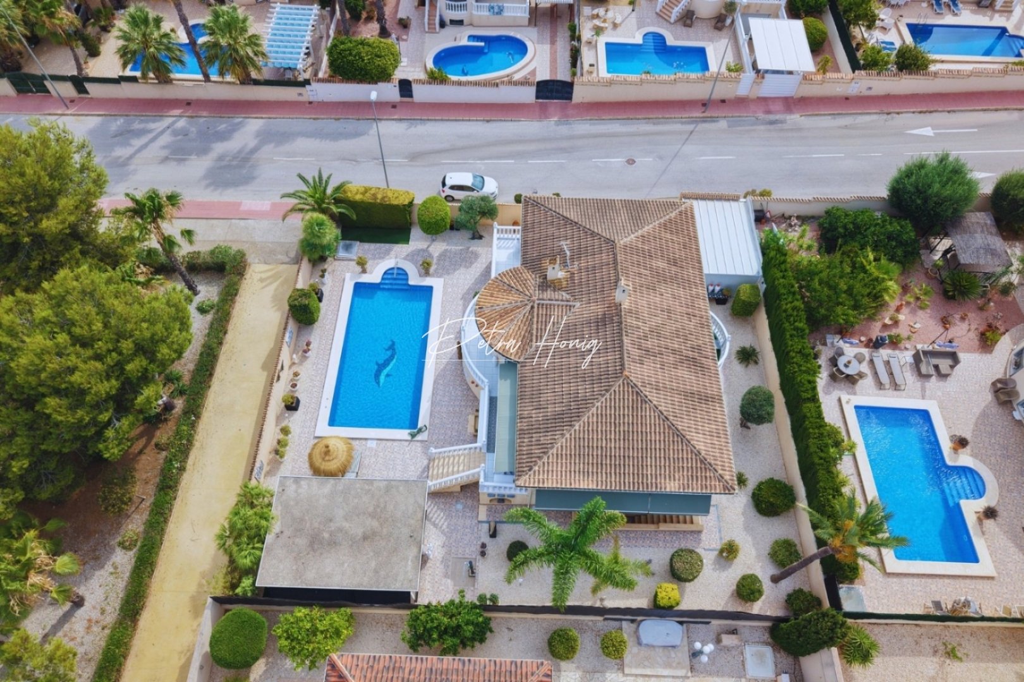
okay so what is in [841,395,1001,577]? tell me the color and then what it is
blue swimming pool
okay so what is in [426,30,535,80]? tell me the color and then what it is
blue swimming pool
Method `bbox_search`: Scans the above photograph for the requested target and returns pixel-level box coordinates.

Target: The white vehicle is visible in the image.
[439,173,498,201]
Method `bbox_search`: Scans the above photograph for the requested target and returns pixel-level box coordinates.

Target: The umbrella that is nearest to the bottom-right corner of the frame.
[944,591,982,620]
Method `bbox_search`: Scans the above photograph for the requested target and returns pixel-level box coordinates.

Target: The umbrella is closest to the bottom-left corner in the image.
[311,437,356,478]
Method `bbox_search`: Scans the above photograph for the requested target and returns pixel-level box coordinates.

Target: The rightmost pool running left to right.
[896,10,1024,61]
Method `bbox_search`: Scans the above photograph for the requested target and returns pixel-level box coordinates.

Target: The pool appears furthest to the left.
[120,18,278,79]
